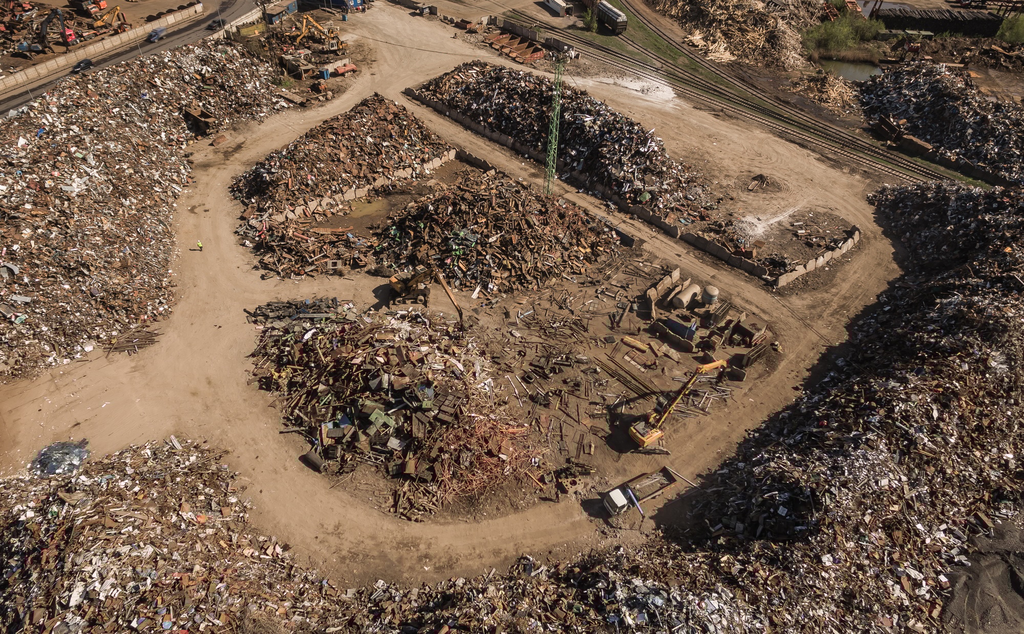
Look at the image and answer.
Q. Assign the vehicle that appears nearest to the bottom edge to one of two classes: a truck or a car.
truck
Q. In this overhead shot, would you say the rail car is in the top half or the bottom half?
top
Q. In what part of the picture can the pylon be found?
top left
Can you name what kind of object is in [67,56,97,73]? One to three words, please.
car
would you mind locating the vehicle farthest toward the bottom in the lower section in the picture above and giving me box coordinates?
[603,456,691,519]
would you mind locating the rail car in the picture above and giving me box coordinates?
[583,0,624,30]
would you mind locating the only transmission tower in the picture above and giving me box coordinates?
[258,0,280,75]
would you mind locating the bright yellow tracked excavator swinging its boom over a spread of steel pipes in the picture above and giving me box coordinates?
[627,361,729,459]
